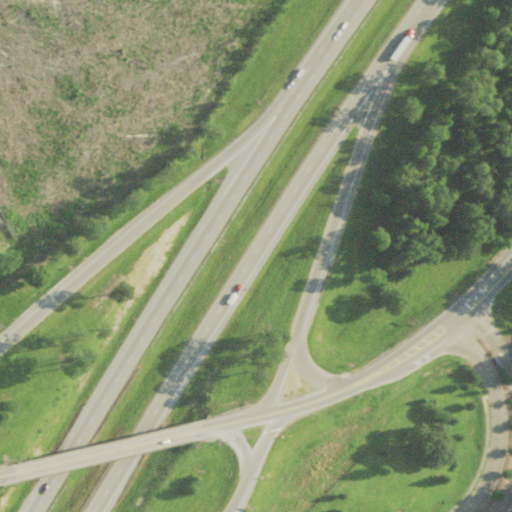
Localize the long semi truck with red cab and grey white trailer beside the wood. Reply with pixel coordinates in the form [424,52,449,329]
[390,30,418,64]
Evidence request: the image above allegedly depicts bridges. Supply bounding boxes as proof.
[14,419,210,484]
